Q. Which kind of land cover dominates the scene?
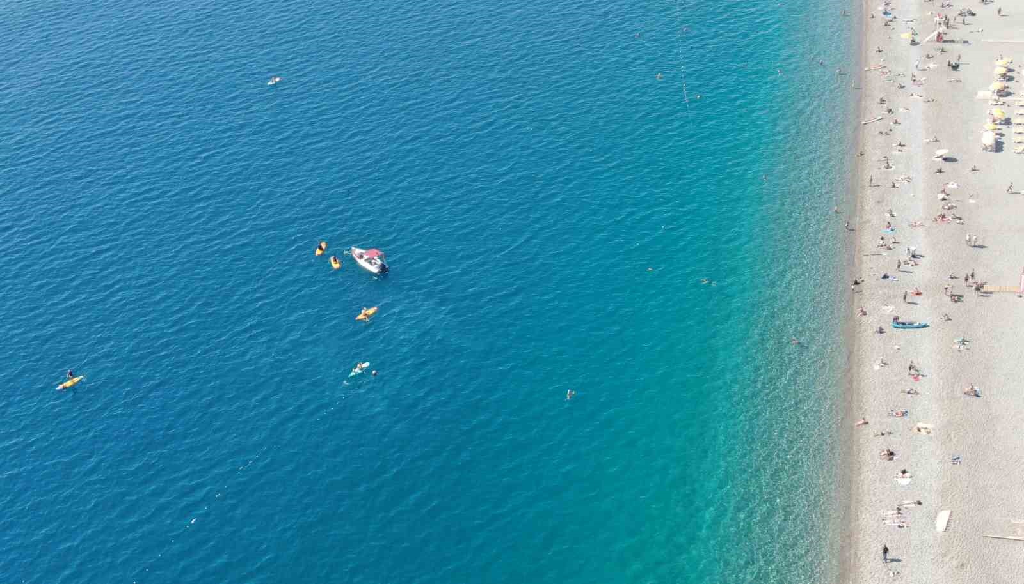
water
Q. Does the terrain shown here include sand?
Yes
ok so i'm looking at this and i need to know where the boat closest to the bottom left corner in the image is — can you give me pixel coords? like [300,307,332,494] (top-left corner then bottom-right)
[56,375,84,389]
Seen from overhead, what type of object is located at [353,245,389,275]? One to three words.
boat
